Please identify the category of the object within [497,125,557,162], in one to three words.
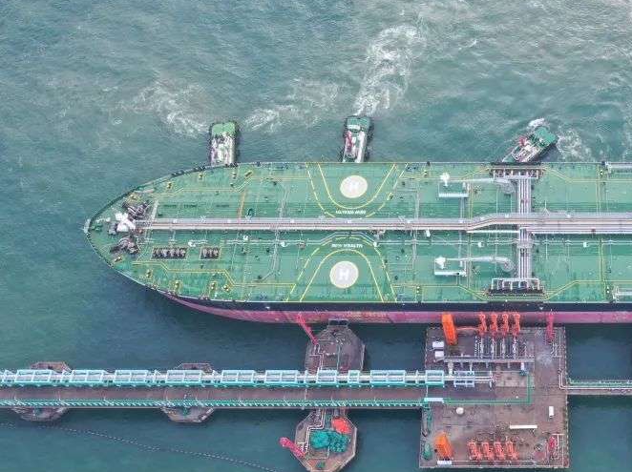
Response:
boat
